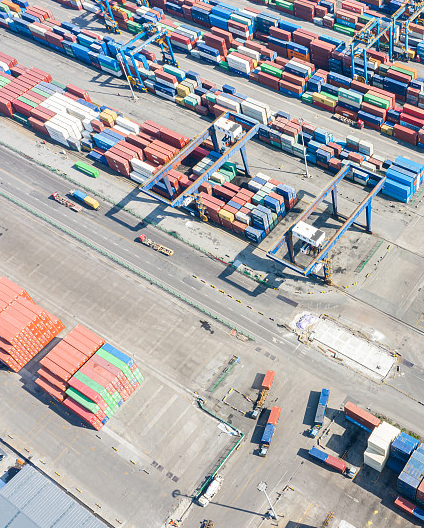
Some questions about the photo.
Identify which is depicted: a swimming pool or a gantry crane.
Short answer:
gantry crane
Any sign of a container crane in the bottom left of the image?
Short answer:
No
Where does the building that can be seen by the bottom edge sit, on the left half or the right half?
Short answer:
left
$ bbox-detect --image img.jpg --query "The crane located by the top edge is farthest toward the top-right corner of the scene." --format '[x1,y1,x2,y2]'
[389,0,424,59]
